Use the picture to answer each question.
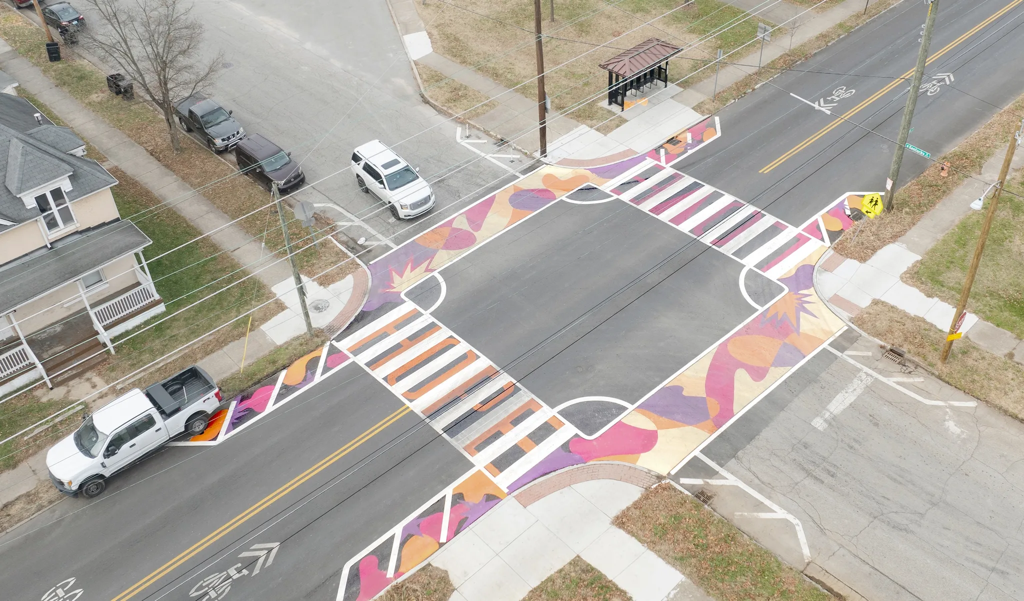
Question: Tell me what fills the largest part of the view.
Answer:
paved ground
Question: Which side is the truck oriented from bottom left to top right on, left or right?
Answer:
left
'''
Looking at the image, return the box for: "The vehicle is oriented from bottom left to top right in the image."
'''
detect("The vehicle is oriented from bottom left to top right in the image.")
[42,364,227,502]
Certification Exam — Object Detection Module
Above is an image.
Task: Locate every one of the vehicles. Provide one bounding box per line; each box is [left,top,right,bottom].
[352,140,442,221]
[43,0,89,28]
[42,364,227,502]
[175,95,251,155]
[233,131,310,195]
